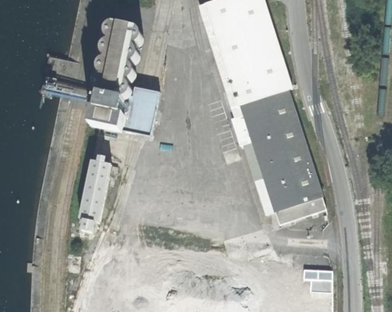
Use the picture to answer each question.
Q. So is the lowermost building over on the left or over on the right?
right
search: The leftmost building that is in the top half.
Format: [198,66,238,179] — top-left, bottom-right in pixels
[84,88,130,139]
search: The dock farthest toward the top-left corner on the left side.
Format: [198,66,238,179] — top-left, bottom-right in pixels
[46,54,85,82]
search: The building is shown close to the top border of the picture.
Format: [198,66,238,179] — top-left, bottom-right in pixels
[198,0,294,108]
